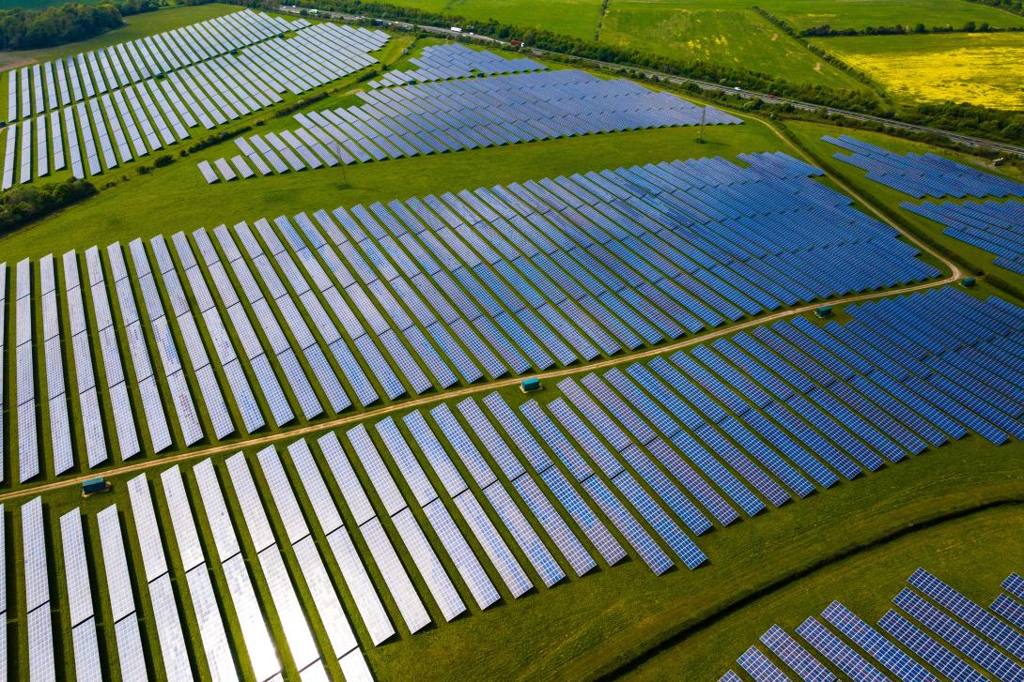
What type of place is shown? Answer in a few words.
solar farm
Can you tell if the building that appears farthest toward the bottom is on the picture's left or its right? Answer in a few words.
left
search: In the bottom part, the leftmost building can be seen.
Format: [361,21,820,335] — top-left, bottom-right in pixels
[76,480,108,502]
